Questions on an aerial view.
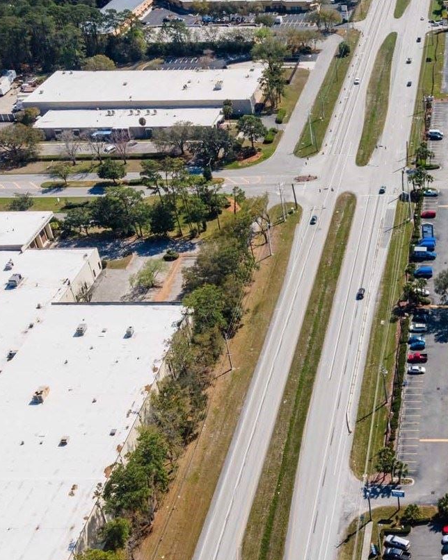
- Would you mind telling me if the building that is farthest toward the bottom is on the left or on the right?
left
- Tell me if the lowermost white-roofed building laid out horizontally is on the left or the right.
left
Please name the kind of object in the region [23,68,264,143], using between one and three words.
building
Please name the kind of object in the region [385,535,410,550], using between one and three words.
car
